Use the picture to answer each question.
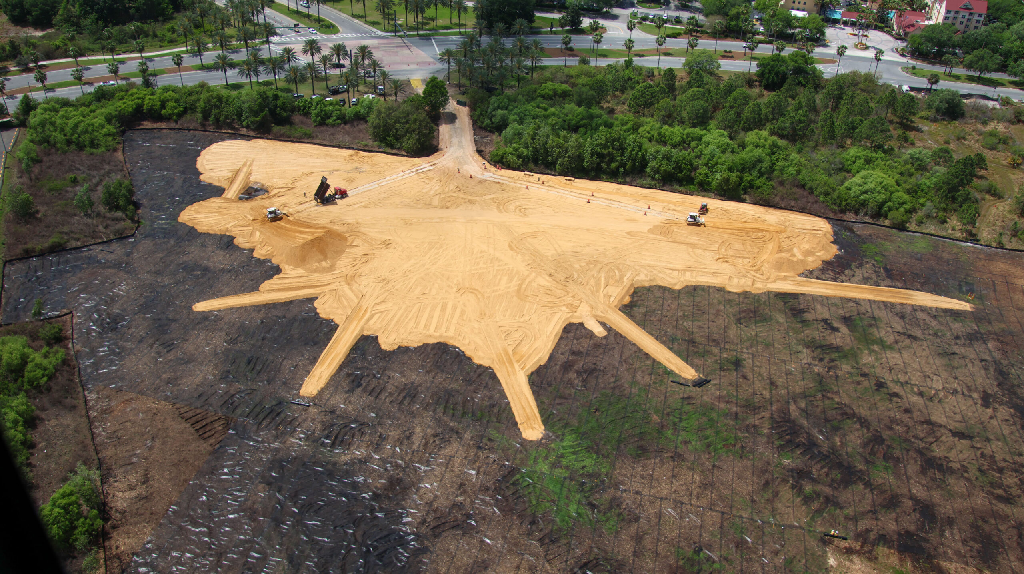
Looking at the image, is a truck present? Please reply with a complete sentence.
Yes, a truck can be made out from above.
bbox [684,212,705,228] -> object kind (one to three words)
work vehicle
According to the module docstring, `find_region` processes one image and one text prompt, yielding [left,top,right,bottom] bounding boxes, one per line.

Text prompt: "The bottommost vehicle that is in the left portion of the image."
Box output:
[265,206,286,221]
